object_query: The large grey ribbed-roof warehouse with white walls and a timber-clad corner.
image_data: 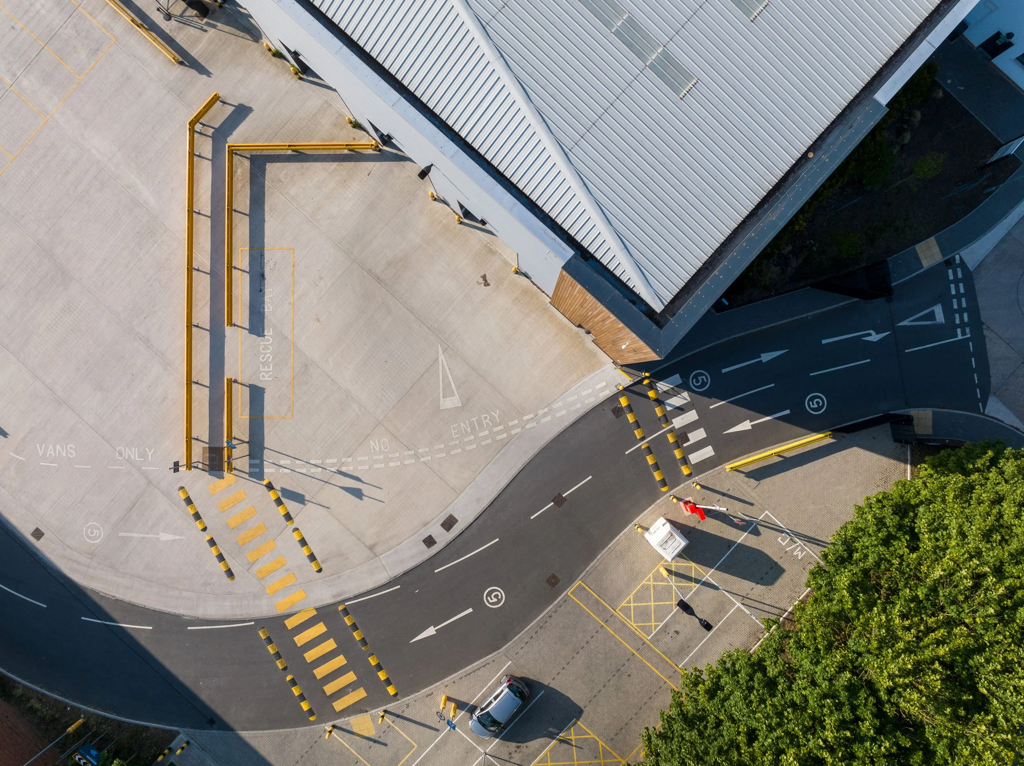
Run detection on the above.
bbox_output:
[237,0,980,367]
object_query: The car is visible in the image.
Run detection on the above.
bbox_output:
[466,674,533,744]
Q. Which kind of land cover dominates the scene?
paved ground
